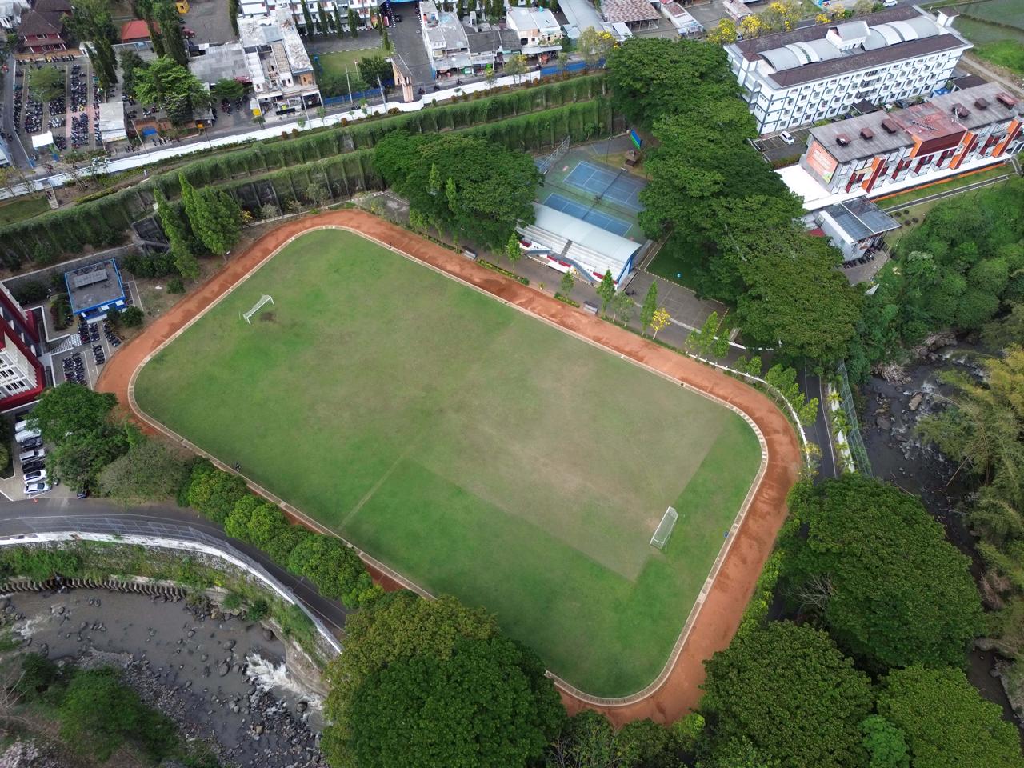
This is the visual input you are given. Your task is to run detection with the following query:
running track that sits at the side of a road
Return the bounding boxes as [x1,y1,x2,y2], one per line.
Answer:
[97,210,800,736]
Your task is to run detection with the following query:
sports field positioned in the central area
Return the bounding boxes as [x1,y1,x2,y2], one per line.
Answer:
[132,228,761,697]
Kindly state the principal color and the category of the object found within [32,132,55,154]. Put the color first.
white tent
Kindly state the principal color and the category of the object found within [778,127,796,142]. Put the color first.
white car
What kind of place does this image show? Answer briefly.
sports ground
